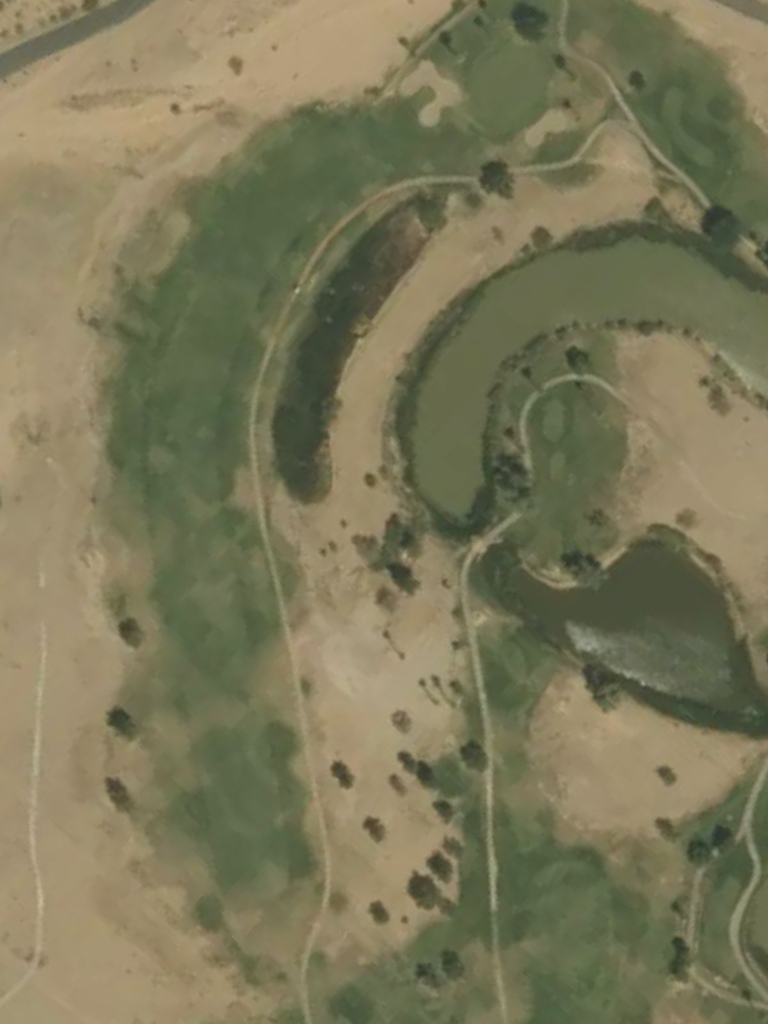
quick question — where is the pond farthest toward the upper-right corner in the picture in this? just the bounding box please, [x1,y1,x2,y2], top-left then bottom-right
[411,232,768,522]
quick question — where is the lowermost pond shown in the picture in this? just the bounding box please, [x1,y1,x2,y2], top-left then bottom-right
[506,539,768,728]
